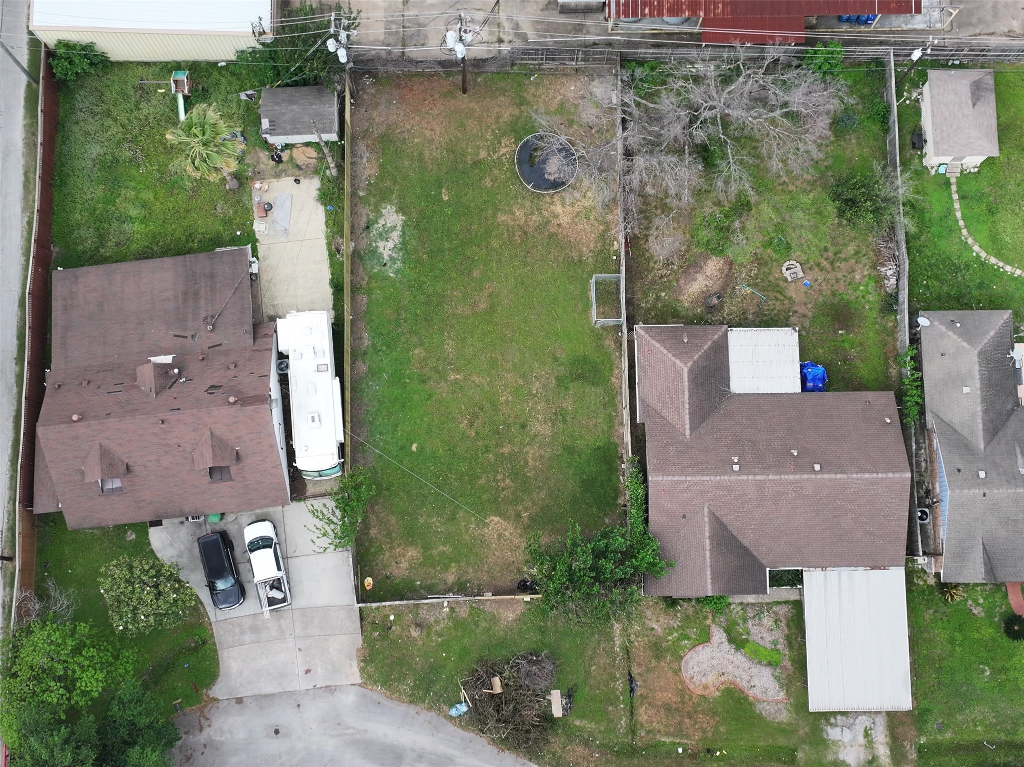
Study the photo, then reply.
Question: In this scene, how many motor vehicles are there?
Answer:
3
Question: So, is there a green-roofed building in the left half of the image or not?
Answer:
No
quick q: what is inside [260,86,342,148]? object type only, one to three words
shed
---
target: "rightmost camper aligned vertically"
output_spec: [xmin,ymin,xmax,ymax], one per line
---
[281,313,350,483]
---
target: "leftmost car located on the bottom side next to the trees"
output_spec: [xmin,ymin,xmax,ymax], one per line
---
[200,531,246,613]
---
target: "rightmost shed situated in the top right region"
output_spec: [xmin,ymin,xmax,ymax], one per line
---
[915,68,1000,176]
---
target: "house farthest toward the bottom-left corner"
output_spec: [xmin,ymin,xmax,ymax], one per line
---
[34,247,293,530]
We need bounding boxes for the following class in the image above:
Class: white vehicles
[281,313,350,483]
[245,516,293,615]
